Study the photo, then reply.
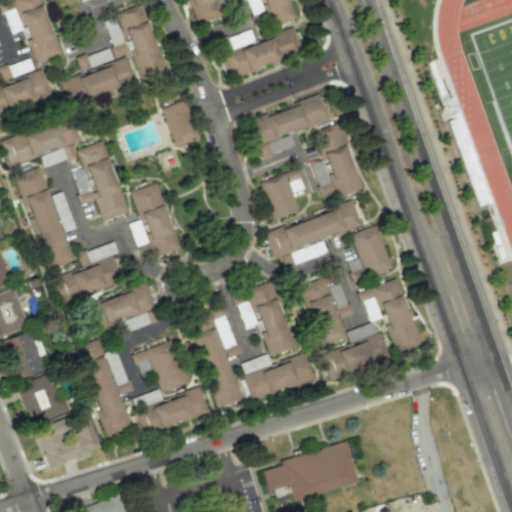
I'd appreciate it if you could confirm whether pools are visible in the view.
Yes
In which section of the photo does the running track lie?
top right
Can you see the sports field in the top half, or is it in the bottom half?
top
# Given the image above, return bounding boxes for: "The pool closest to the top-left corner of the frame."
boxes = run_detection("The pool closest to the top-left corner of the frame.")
[117,116,176,162]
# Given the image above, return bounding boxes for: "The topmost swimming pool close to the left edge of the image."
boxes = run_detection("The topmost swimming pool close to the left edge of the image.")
[3,248,20,272]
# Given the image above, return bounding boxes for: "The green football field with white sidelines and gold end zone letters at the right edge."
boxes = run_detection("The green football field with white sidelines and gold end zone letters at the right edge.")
[462,0,512,183]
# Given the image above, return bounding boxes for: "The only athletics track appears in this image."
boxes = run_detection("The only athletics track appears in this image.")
[439,0,512,245]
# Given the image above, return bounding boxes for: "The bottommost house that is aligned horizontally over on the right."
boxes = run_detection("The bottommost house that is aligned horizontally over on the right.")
[264,442,358,500]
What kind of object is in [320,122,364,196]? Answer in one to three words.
house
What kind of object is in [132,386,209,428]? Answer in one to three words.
house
